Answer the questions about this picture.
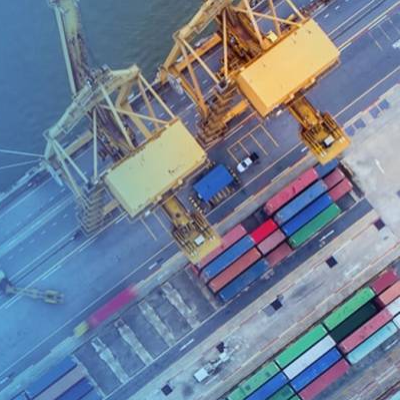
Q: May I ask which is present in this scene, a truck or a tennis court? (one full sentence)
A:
Looking from above, you can make out a truck.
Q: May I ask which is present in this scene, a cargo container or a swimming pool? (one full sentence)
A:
This aerial view contains a cargo container.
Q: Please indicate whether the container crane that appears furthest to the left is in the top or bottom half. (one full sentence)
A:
The container crane that appears furthest to the left sits in the top half of the picture.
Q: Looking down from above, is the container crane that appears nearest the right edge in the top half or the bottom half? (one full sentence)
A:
It is in the top half that the container crane that appears nearest the right edge appears.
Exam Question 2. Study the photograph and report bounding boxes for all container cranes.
[33,0,223,266]
[144,0,355,166]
